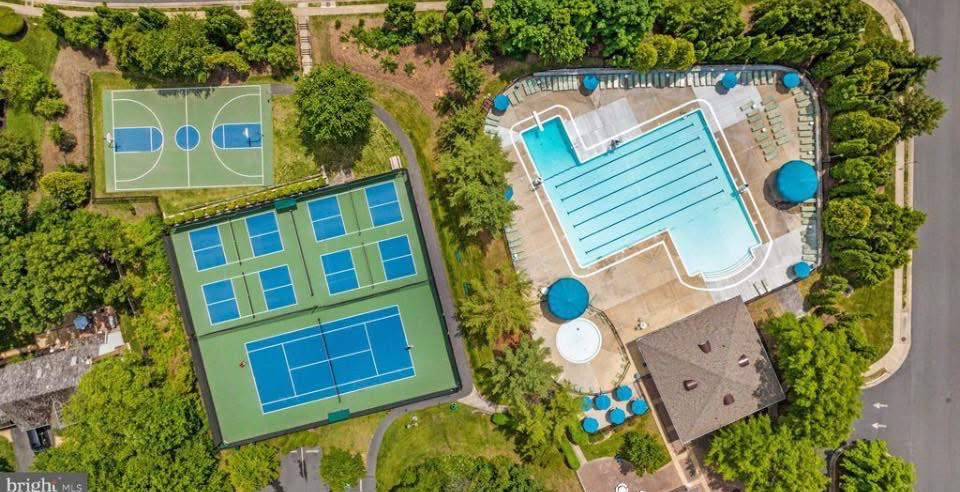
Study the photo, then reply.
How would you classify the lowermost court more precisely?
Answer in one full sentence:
From above, the lowermost court can be identified as a tennis court.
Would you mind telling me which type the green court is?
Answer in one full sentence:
The green court can be classified as a basketball court.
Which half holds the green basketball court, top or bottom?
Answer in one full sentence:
The green basketball court is in the top half of the image.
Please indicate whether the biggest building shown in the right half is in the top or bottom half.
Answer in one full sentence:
You can find the biggest building shown in the right half in the bottom half.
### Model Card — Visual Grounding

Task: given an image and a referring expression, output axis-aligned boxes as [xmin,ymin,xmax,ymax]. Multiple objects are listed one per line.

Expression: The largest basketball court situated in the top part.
[103,83,273,192]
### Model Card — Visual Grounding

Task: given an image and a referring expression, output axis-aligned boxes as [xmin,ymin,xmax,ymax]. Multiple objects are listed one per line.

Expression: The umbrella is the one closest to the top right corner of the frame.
[782,71,800,89]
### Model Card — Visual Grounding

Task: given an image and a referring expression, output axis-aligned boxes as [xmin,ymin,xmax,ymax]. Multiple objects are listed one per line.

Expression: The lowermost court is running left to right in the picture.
[245,305,416,414]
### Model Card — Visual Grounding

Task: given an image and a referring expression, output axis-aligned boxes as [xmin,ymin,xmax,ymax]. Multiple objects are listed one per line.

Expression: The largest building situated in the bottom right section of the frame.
[638,295,785,442]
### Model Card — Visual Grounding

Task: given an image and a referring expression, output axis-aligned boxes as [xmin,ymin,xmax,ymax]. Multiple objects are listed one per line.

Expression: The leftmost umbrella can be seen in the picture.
[73,314,90,331]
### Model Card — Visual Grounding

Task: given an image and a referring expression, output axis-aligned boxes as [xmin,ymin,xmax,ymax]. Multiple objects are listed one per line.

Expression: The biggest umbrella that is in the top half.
[775,160,817,202]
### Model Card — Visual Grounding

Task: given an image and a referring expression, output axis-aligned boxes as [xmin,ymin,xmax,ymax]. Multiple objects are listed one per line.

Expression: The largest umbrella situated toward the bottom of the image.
[548,277,589,319]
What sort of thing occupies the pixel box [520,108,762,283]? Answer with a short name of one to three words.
swimming pool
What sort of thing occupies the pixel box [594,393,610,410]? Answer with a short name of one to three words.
umbrella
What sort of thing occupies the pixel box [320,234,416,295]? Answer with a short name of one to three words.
sports court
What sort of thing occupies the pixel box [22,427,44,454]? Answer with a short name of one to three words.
car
